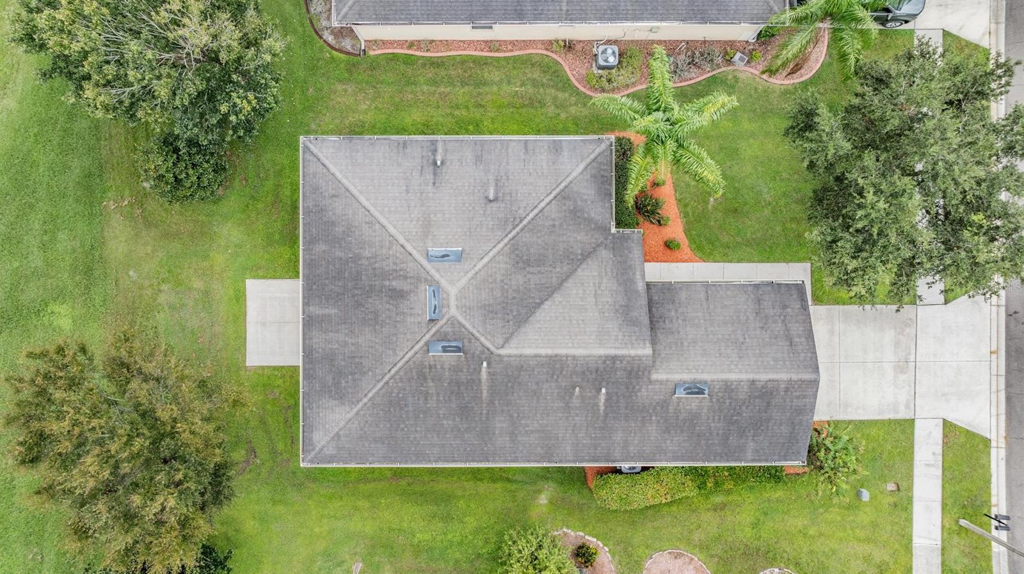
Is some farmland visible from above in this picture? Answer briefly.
No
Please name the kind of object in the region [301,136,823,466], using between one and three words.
house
